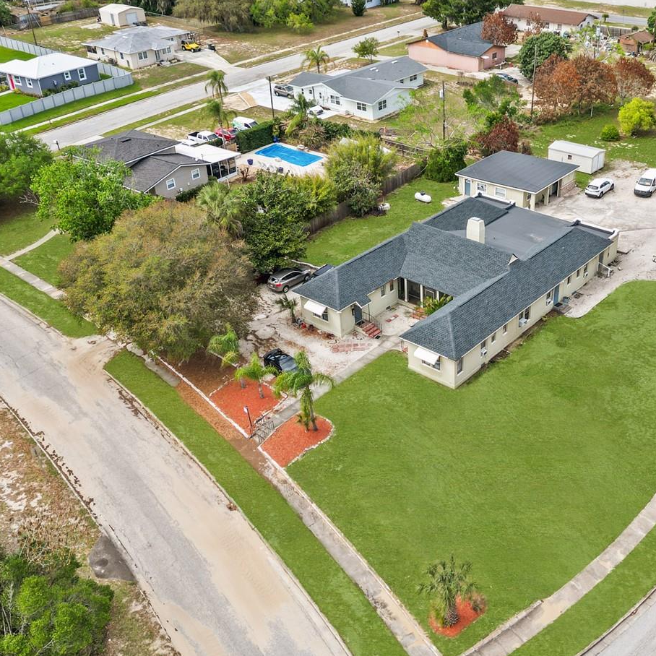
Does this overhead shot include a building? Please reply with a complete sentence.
Yes, a building appears in the view.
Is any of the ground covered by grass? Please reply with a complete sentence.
Yes, grass shows up in the scene.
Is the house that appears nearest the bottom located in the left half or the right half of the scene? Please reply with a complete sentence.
The house that appears nearest the bottom is on the right side of the image.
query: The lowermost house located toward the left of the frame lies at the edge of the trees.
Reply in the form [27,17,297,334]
[68,123,253,200]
